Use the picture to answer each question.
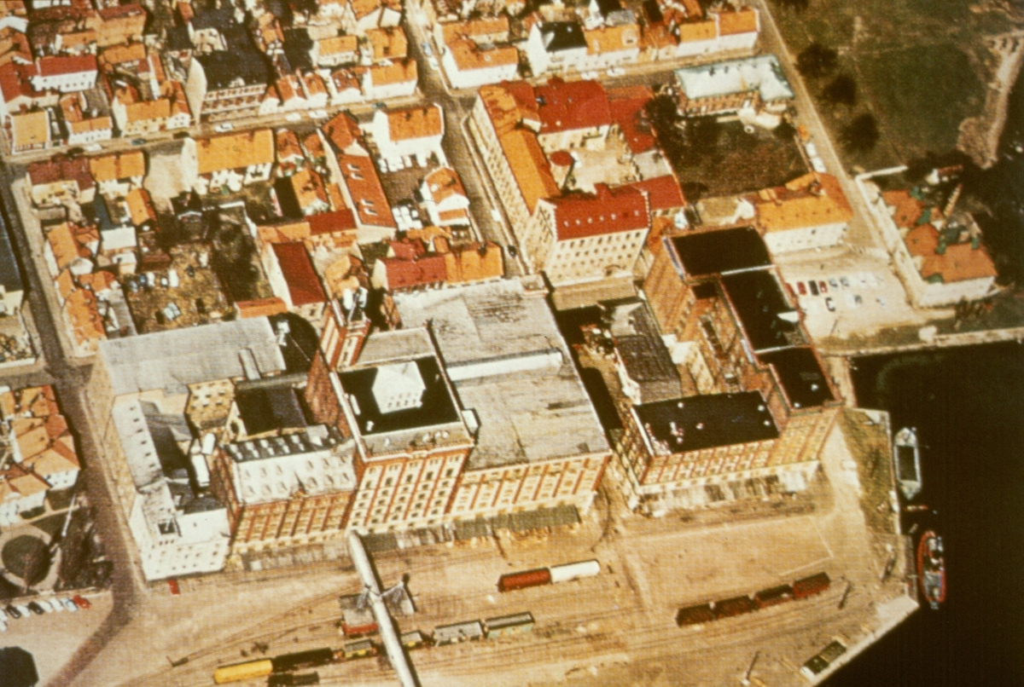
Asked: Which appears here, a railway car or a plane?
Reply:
railway car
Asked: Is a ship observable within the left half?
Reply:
No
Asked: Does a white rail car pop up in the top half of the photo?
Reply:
No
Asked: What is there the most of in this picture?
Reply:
buildings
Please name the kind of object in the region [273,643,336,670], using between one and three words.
rail car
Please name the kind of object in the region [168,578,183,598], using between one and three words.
vehicle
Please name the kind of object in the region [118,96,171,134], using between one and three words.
house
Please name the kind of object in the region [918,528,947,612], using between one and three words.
ship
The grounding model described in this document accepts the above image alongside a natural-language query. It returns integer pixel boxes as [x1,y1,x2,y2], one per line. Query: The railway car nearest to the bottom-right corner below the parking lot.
[792,570,834,595]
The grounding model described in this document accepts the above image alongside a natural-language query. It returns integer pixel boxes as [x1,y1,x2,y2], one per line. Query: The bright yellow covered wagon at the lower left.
[213,654,275,683]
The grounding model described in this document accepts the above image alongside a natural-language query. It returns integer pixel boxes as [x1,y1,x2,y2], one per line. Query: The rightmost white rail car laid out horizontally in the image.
[550,553,603,579]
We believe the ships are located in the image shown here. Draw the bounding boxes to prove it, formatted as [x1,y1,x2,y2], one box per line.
[892,427,921,505]
[918,528,947,612]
